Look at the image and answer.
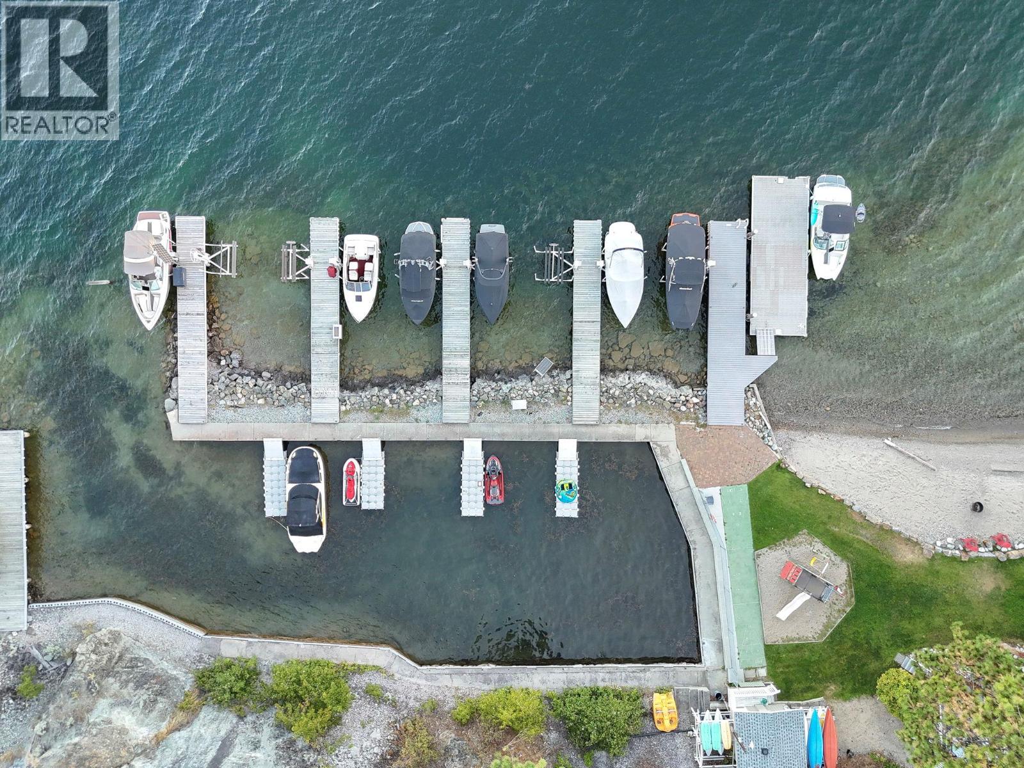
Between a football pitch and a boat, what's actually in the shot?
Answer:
boat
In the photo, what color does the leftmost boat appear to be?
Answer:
white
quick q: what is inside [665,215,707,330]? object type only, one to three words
boat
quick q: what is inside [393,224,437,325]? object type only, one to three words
boat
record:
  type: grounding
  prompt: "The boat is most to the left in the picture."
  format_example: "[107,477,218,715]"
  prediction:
[122,213,175,331]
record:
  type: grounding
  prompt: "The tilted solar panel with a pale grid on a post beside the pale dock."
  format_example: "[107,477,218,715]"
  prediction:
[147,240,194,275]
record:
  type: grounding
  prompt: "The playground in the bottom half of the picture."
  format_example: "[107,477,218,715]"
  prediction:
[776,549,845,622]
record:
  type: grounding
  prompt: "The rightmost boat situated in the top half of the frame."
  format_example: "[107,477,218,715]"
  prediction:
[800,178,869,280]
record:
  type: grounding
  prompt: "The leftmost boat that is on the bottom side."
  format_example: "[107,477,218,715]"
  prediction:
[286,446,329,551]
